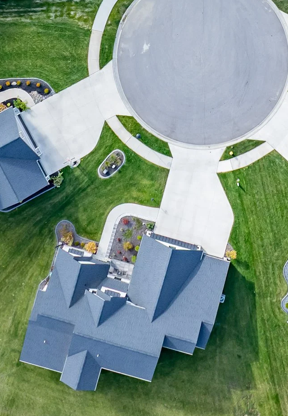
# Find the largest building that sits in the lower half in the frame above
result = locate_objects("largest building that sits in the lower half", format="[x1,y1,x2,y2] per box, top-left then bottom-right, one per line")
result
[20,225,232,393]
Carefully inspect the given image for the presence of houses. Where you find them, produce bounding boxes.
[0,105,55,210]
[20,225,232,393]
